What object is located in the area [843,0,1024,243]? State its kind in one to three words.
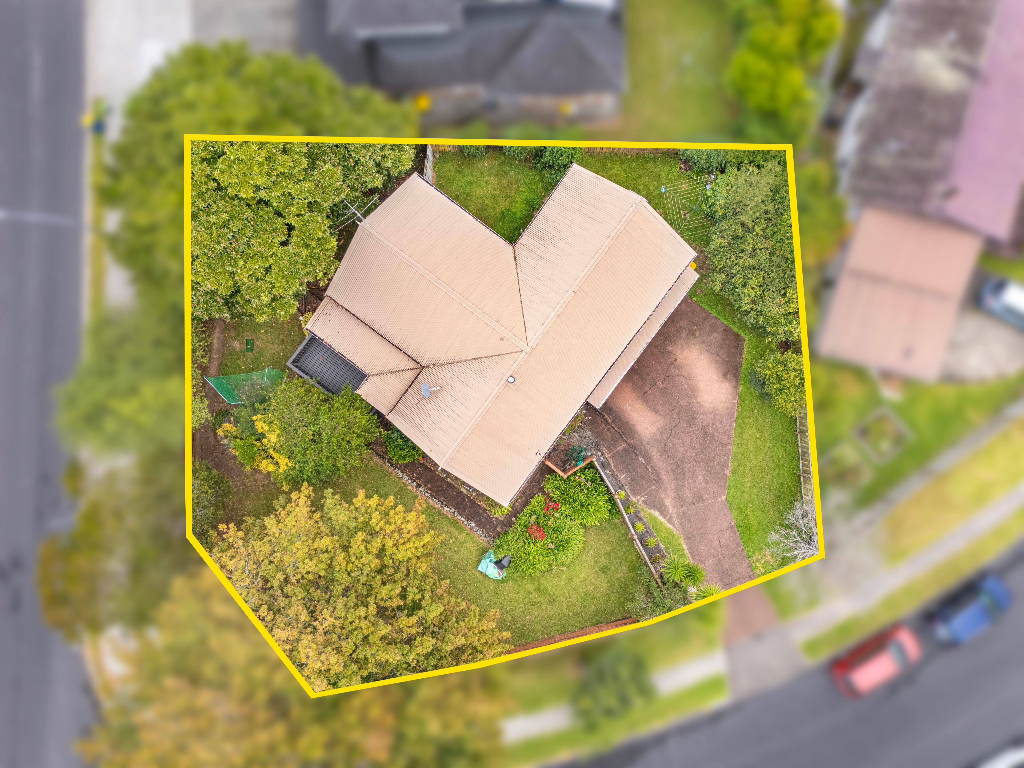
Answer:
house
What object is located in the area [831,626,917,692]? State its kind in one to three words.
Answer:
car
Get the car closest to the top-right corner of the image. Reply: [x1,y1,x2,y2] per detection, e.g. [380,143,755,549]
[978,280,1024,329]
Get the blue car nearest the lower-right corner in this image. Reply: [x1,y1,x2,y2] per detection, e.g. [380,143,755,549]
[926,575,1011,646]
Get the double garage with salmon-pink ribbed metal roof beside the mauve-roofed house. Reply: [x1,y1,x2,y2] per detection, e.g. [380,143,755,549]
[801,206,985,383]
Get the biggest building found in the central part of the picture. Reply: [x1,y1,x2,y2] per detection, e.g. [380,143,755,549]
[285,161,705,509]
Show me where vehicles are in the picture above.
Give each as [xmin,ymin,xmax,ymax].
[979,734,1024,768]
[978,280,1024,329]
[831,626,917,692]
[926,575,1011,646]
